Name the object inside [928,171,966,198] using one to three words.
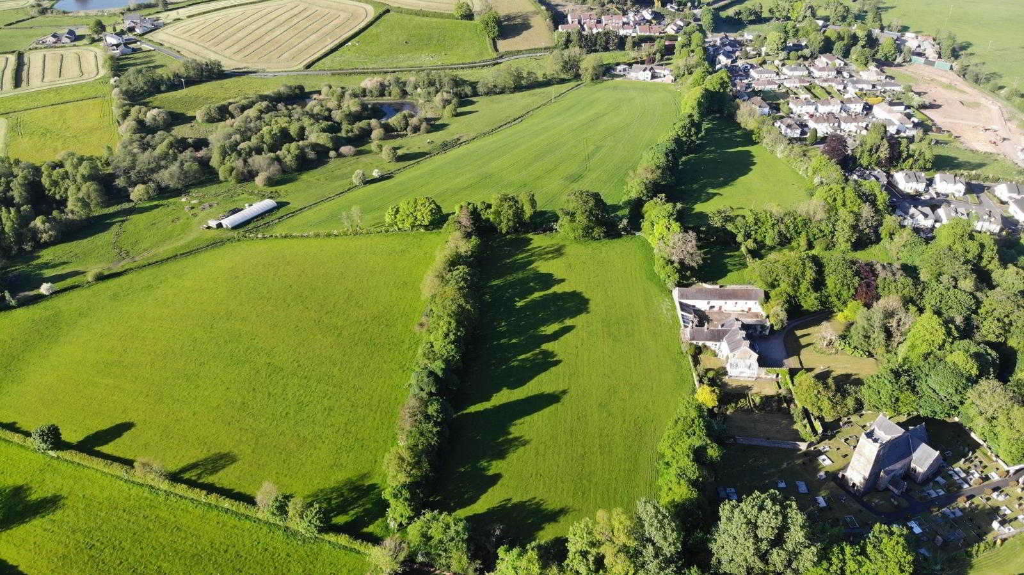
house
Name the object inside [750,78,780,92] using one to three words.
house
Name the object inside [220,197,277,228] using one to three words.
greenhouse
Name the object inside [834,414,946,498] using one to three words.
building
